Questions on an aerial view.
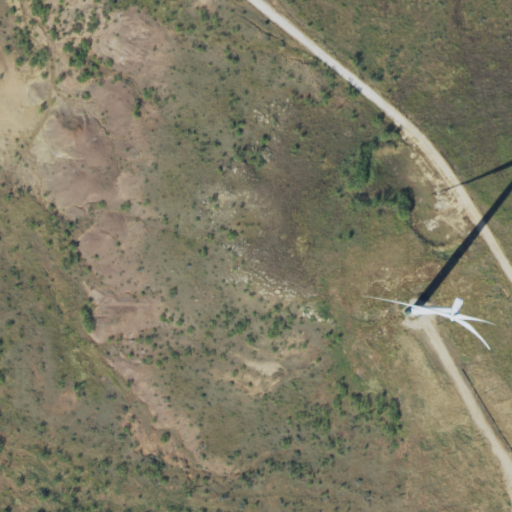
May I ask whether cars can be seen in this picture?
No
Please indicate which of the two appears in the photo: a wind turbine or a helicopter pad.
wind turbine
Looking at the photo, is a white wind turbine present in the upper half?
No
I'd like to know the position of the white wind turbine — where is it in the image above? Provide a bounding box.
[366,296,497,350]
